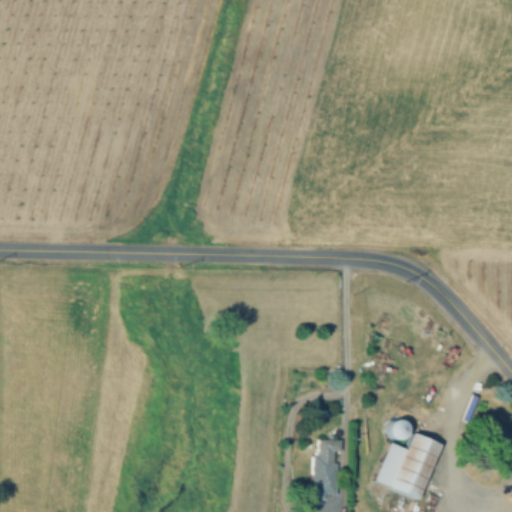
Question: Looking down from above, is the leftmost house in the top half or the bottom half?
bottom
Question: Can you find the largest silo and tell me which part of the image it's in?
bottom right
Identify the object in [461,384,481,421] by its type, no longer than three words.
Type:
vehicle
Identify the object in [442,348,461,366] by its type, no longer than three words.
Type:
work vehicle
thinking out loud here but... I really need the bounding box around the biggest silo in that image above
[385,419,412,440]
